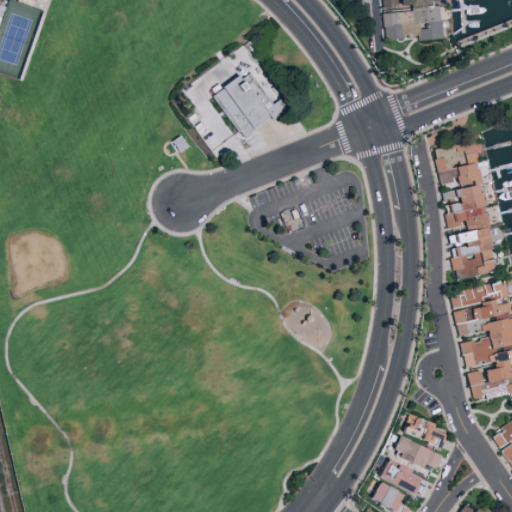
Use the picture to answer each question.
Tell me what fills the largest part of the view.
grass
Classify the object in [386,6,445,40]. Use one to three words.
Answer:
building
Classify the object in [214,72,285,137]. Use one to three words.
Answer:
building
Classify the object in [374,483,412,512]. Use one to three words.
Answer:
house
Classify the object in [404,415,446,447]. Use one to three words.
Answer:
house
